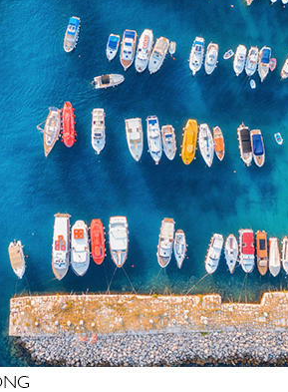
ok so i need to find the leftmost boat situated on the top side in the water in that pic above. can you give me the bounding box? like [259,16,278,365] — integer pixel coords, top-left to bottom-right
[35,105,60,156]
